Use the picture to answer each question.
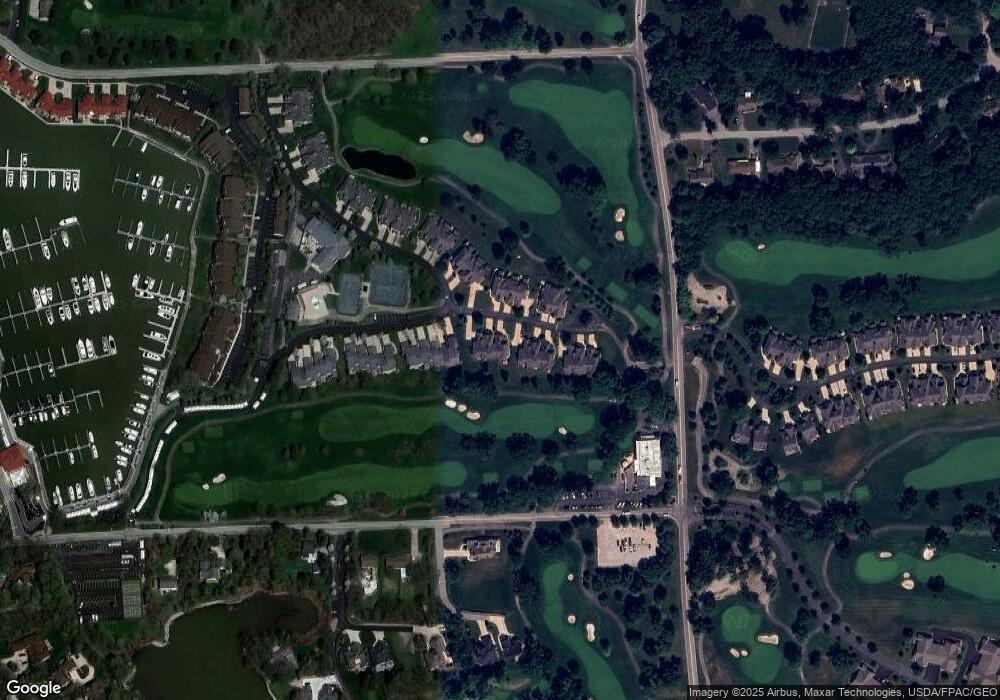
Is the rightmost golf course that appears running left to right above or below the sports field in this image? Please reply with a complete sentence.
In the image, the rightmost golf course that appears running left to right sits below the sports field.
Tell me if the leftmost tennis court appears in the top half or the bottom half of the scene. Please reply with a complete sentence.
You can find the leftmost tennis court in the bottom half.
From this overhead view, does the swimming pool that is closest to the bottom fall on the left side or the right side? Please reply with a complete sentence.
It is on the left.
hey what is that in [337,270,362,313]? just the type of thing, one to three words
tennis court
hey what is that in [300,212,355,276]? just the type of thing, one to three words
building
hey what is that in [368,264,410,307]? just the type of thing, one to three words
tennis court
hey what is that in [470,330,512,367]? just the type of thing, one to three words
house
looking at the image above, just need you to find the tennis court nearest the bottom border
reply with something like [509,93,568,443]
[122,581,142,619]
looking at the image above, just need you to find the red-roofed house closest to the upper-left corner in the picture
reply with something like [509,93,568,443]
[0,56,42,104]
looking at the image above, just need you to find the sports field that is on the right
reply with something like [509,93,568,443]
[809,0,849,49]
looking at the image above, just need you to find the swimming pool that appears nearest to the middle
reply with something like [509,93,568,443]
[299,281,333,320]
